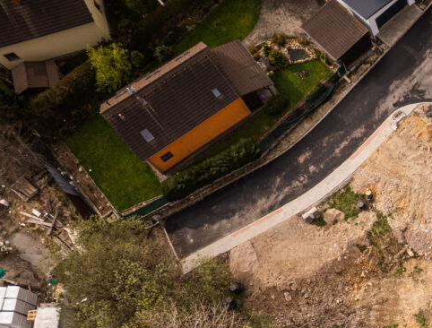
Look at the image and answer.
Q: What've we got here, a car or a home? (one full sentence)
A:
There is a home in the scene.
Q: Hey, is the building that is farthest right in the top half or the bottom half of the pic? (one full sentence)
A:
It is in the top half that the building that is farthest right appears.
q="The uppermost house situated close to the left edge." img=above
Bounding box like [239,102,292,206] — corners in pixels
[0,0,117,68]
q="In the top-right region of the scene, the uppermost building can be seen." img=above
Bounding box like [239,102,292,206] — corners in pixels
[350,0,419,35]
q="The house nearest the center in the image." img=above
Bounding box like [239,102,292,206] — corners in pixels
[101,30,275,181]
